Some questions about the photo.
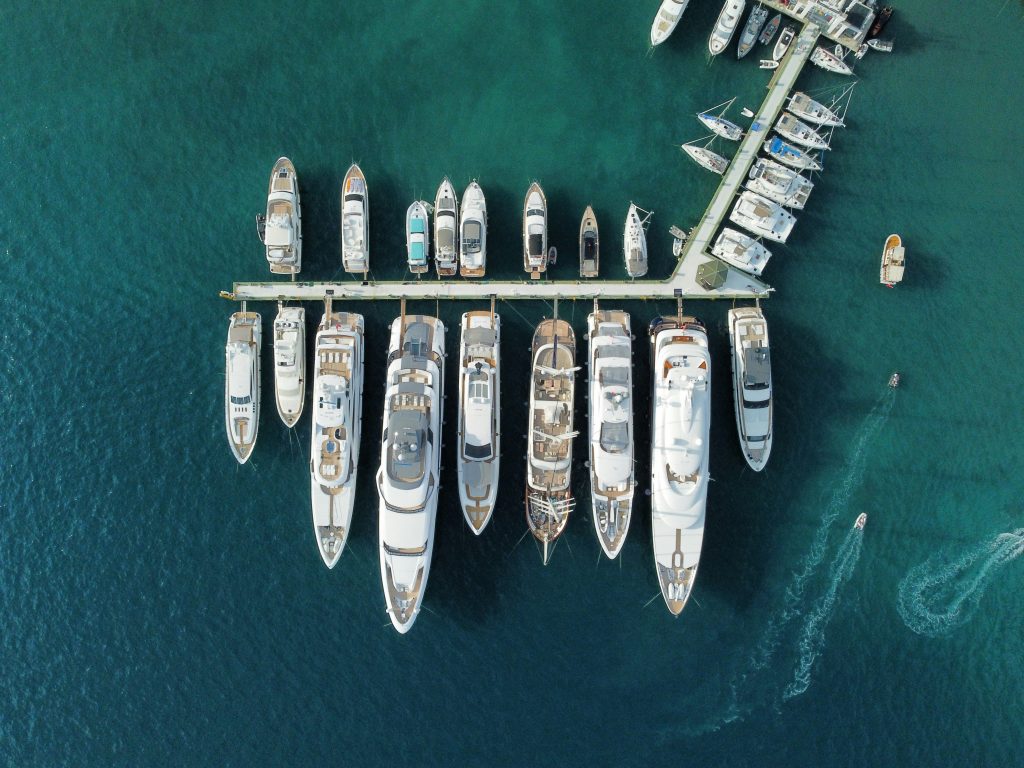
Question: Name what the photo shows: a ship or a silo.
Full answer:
The one in the frame is a ship.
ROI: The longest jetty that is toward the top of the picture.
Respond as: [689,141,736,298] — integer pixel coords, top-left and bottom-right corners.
[233,24,820,300]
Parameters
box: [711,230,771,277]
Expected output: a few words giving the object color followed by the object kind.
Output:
white boat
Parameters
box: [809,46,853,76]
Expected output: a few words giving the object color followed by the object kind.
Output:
white boat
